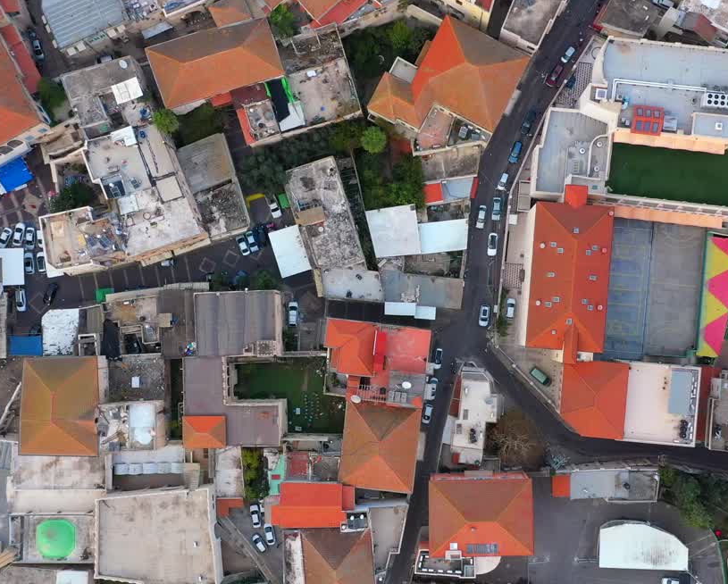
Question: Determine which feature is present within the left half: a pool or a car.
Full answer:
What appears within the left half is a car.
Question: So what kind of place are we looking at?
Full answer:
This image shows a residential area.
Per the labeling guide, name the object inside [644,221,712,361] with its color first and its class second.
gray sports court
